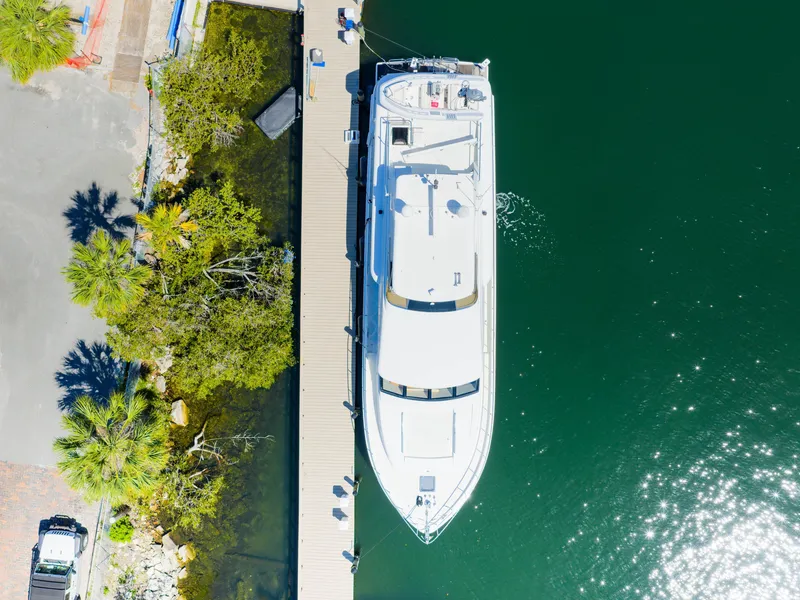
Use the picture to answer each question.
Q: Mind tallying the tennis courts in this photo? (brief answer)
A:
0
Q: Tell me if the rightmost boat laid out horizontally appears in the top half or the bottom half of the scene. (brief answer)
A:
top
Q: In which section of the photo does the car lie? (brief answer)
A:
bottom left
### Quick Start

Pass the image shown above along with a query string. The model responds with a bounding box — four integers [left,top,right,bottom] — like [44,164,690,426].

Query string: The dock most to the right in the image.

[295,0,365,600]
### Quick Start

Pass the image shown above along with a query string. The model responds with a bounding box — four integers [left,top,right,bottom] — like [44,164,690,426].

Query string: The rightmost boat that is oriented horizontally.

[379,74,488,120]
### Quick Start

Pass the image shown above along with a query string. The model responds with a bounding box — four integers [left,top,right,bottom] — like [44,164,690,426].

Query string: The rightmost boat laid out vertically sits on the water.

[362,52,496,545]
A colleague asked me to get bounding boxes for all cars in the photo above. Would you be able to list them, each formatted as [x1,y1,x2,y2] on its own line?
[27,520,91,600]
